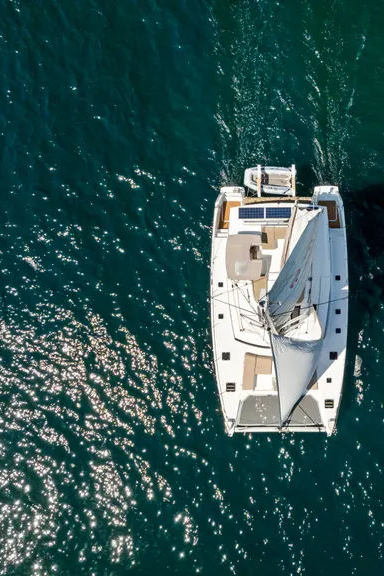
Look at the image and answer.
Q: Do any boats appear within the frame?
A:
Yes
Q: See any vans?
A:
No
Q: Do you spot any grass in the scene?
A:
No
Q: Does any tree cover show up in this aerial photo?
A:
No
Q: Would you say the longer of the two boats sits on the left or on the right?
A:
right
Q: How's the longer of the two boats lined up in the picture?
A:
up and down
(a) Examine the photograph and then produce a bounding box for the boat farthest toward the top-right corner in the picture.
[244,166,292,196]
